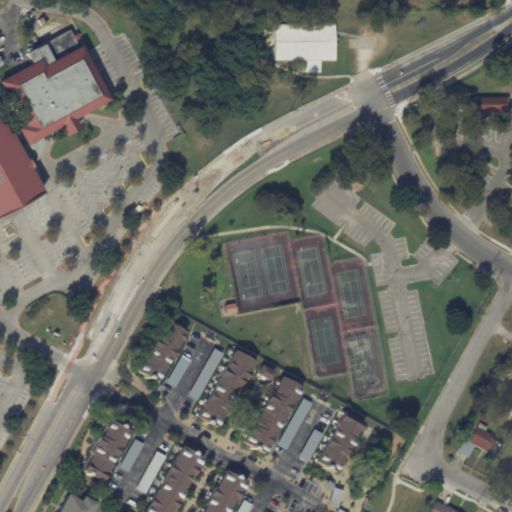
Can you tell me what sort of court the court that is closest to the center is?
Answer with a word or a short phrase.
tennis court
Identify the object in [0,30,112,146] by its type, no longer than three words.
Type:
building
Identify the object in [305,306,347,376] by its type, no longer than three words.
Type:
tennis court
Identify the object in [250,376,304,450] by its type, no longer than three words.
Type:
building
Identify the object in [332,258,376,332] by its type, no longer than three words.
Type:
tennis court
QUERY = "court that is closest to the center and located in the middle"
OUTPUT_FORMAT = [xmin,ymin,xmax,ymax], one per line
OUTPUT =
[228,232,302,312]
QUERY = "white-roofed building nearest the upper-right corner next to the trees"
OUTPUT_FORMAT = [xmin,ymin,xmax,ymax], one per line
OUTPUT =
[274,24,338,72]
